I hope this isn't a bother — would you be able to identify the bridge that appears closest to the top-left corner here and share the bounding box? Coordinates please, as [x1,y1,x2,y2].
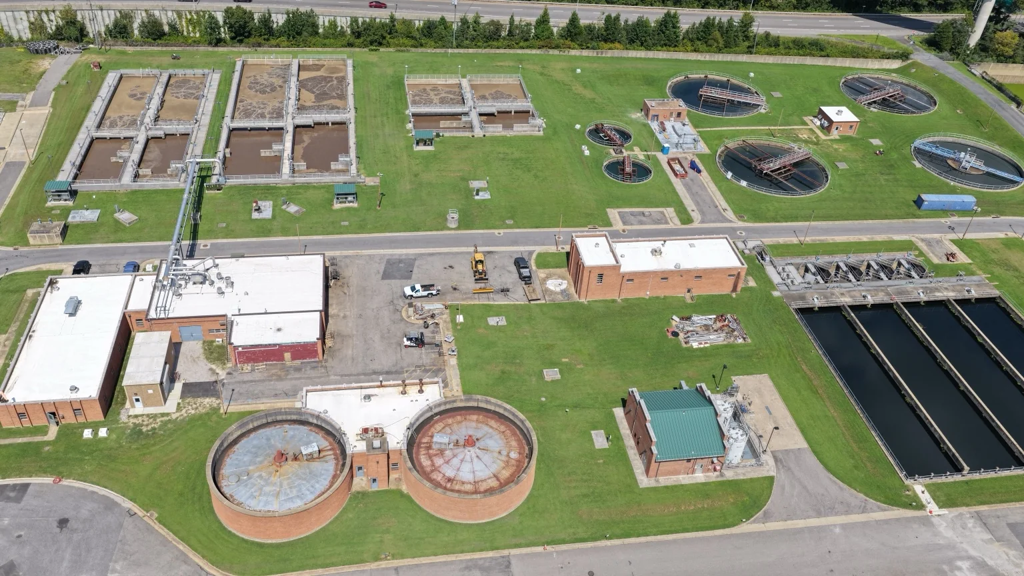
[91,125,139,141]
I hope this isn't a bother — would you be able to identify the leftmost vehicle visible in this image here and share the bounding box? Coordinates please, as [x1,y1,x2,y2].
[69,259,90,276]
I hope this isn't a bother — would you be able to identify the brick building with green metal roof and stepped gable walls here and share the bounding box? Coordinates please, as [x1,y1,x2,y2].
[618,376,732,478]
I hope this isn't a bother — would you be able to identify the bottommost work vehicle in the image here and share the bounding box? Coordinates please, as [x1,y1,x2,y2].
[406,330,434,347]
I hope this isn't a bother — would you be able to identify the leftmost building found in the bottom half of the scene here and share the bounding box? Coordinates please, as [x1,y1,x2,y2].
[0,273,135,427]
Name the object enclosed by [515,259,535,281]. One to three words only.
vehicle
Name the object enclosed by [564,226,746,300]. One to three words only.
building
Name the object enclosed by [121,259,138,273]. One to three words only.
car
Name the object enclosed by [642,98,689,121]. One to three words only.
house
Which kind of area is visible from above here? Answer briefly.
industrial area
